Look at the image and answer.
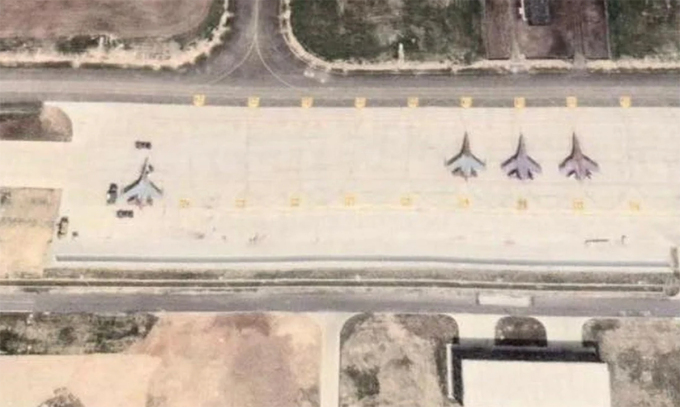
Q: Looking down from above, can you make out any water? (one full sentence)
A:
No, water can't be seen anywhere here.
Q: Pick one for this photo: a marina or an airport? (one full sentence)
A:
The picture captures an airport.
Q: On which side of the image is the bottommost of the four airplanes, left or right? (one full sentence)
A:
The bottommost of the four airplanes appears in the left half of the scene.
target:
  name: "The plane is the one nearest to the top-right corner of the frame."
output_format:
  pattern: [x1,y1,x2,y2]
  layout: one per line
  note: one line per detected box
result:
[558,132,598,181]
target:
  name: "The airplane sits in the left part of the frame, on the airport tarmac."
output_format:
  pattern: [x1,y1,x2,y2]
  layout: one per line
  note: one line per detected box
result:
[122,158,162,208]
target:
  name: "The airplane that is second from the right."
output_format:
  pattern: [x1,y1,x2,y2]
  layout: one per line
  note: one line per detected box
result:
[501,131,542,181]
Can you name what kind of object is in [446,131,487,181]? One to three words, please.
airplane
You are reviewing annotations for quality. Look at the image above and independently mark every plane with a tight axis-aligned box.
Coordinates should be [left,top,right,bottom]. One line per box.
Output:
[558,132,598,181]
[501,131,542,181]
[122,158,162,208]
[446,131,487,181]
